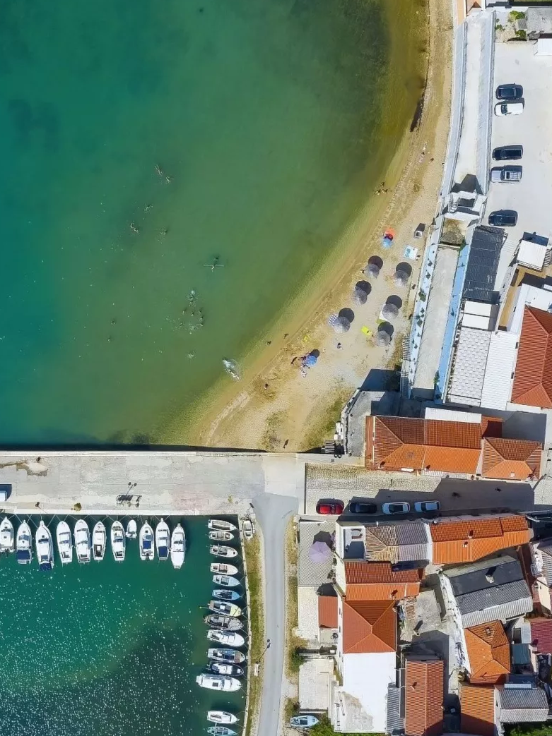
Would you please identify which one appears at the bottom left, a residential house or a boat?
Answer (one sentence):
Looking at the bottom left, you will find a boat.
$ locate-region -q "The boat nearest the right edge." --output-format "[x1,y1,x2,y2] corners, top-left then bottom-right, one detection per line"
[289,715,318,727]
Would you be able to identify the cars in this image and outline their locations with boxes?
[491,167,521,183]
[316,500,344,514]
[381,501,409,515]
[495,103,523,117]
[488,211,517,225]
[497,86,522,100]
[413,500,440,512]
[493,146,522,160]
[348,501,376,515]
